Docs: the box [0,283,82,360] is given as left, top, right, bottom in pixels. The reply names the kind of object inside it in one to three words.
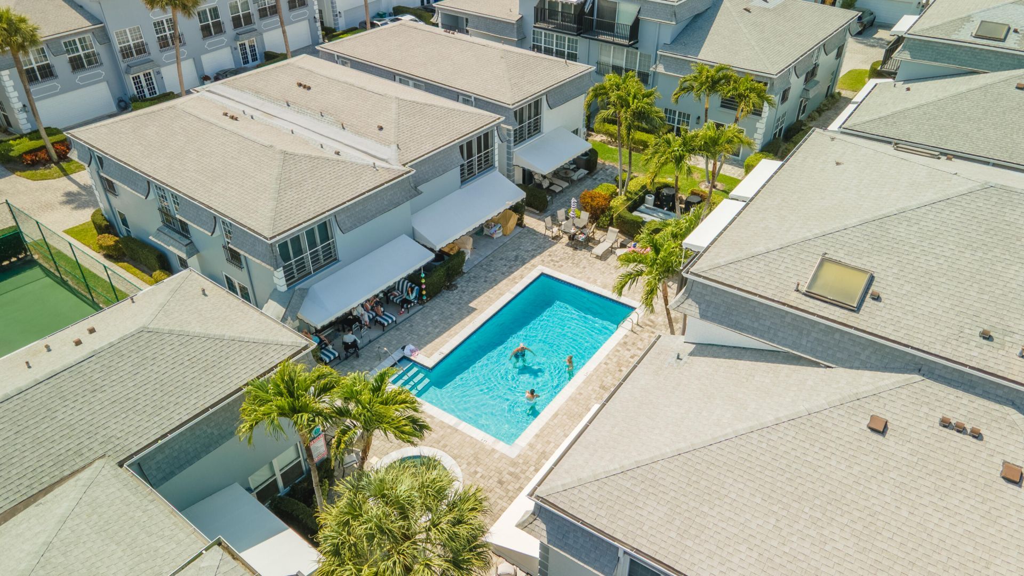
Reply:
tennis court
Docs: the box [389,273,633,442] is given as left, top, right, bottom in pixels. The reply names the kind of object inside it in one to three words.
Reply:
swimming pool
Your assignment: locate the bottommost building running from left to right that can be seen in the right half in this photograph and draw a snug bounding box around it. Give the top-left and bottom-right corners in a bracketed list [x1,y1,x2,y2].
[493,332,1024,576]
